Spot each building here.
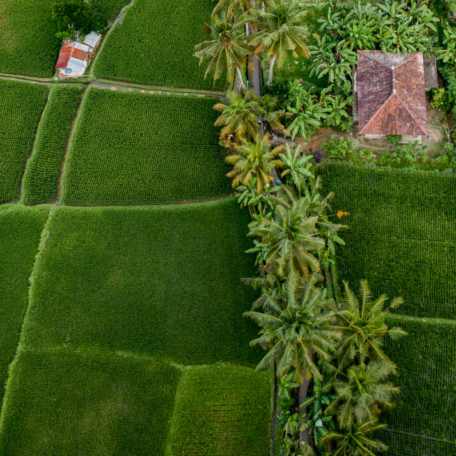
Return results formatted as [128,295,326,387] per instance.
[56,41,94,85]
[358,49,427,146]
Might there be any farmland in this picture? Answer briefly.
Yes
